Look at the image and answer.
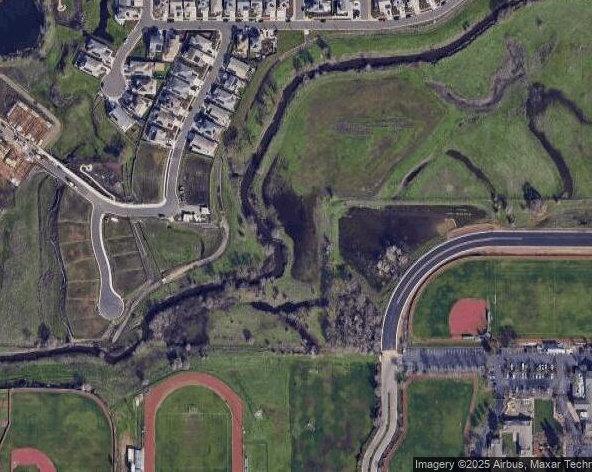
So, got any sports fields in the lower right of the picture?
Yes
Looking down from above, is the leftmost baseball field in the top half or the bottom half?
bottom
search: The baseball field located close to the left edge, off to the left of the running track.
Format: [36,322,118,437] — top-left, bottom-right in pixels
[0,388,115,472]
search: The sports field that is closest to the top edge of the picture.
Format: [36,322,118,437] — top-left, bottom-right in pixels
[411,254,592,341]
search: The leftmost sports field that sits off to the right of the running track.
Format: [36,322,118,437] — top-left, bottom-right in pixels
[291,362,378,472]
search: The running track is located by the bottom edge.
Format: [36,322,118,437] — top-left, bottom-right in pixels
[145,372,243,472]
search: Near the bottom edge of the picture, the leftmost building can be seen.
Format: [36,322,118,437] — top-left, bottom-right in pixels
[491,420,533,462]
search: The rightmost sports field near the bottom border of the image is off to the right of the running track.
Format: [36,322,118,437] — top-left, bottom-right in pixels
[392,374,477,472]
